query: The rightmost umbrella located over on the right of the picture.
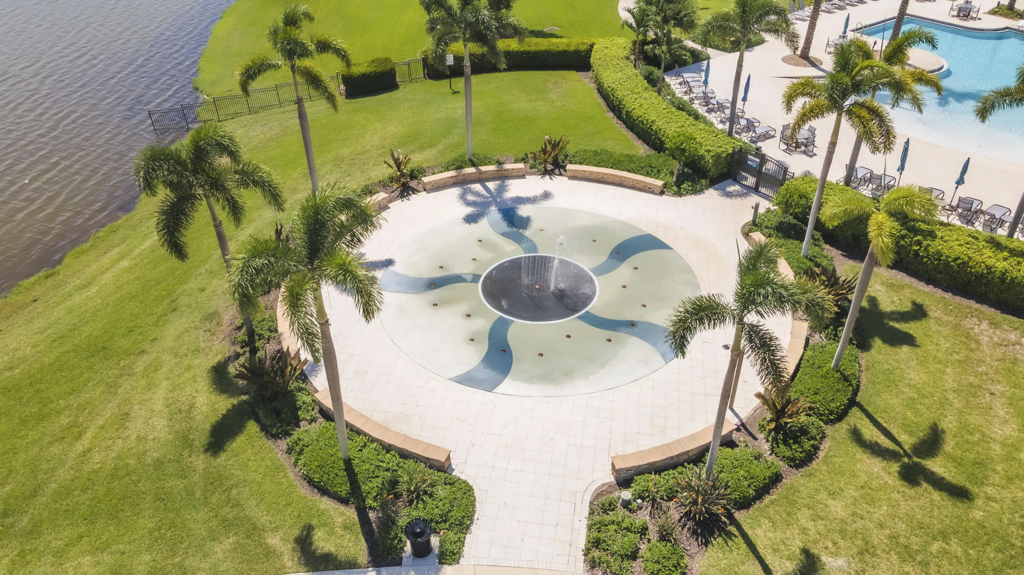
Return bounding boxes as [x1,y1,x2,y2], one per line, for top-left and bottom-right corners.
[953,154,970,199]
